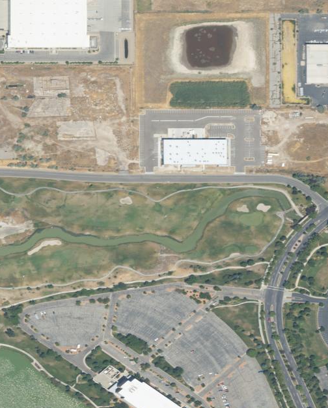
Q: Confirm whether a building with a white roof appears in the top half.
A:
Yes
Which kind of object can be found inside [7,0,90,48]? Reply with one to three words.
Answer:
building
